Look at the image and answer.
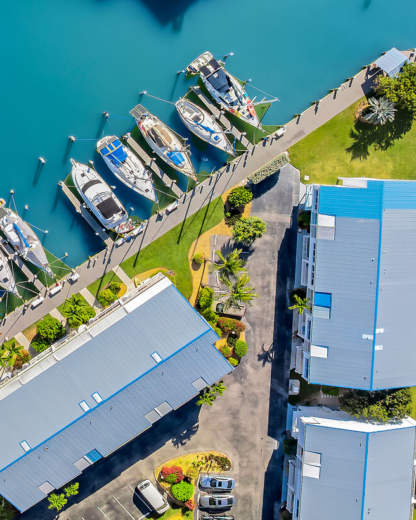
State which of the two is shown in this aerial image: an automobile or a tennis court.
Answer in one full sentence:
Looking from above, you can make out an automobile.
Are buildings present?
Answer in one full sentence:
Yes, a building can be made out from above.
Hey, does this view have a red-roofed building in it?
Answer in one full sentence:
No, the picture doesn't show any red-roofed building.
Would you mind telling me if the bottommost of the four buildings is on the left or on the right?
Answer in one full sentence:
It is on the right.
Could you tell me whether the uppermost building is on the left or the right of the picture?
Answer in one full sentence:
The uppermost building is on the right side of the image.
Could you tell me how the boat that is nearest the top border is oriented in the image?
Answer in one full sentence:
In this picture, the boat that is nearest the top border lies diagonally.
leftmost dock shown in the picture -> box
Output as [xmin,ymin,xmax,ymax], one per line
[0,233,48,291]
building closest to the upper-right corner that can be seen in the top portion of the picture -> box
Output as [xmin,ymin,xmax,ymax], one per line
[367,47,410,81]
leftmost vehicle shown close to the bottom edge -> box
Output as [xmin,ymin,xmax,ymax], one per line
[138,477,169,515]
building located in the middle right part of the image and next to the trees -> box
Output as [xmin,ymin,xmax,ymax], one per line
[288,178,416,392]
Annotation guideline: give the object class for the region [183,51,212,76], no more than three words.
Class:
boat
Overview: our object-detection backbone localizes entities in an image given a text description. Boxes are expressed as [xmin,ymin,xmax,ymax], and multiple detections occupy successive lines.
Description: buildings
[0,275,234,513]
[367,47,410,81]
[288,178,416,392]
[281,398,416,520]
